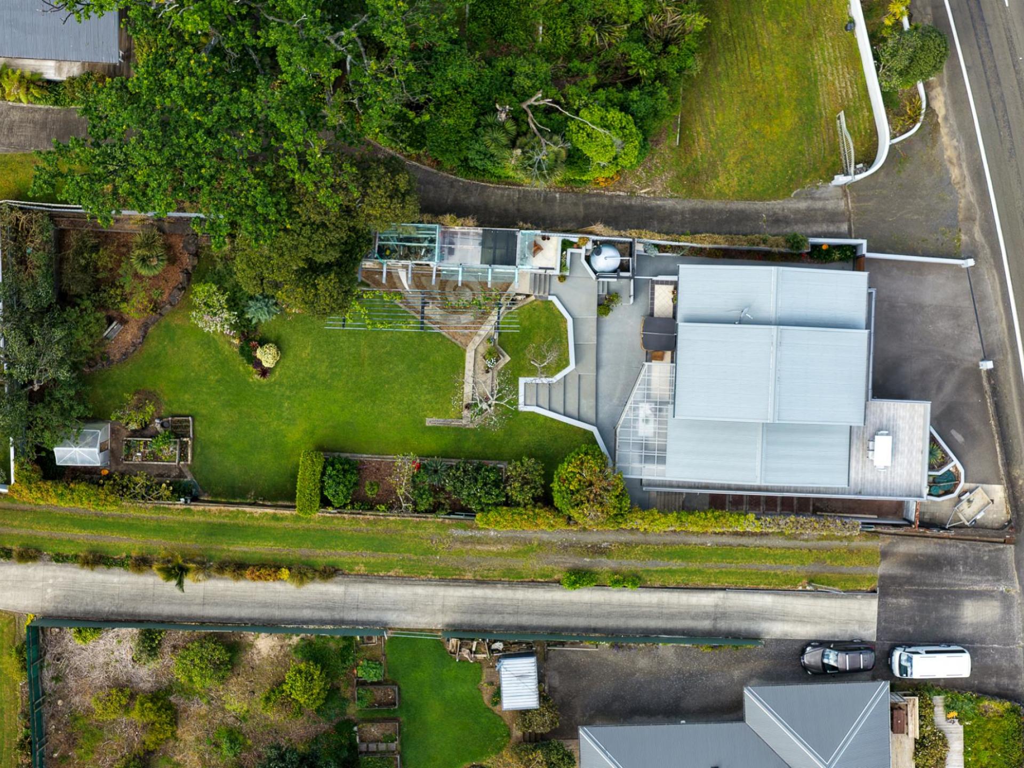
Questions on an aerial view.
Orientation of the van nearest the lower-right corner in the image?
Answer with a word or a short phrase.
horizontally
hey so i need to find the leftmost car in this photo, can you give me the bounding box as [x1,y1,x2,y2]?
[801,643,877,680]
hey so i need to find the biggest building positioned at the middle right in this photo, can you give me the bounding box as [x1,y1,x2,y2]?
[663,263,872,489]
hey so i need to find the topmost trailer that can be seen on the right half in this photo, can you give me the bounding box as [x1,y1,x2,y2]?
[946,487,996,530]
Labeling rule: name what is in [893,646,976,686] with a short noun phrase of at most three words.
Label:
van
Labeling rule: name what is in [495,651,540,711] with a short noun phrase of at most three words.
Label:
shed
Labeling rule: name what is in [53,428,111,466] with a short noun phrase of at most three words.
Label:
greenhouse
